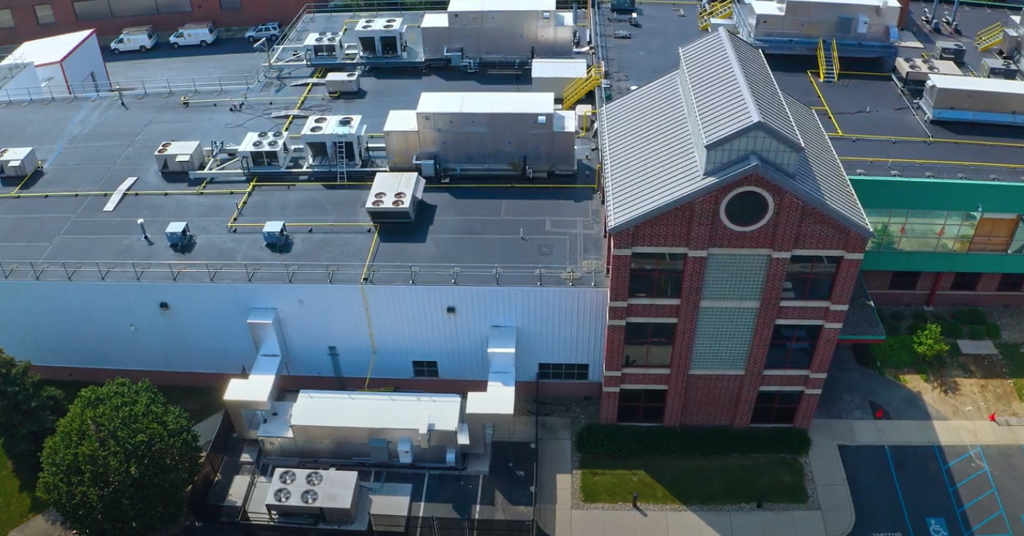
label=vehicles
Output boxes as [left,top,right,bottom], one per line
[170,21,222,48]
[108,25,161,53]
[244,19,288,41]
